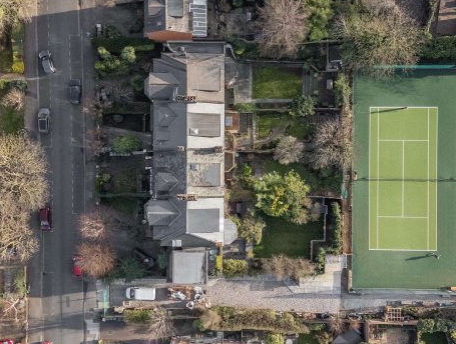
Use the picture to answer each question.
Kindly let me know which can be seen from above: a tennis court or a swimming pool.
tennis court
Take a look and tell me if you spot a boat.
No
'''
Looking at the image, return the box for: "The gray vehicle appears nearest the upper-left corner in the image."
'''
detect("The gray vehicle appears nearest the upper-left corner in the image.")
[39,50,55,74]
